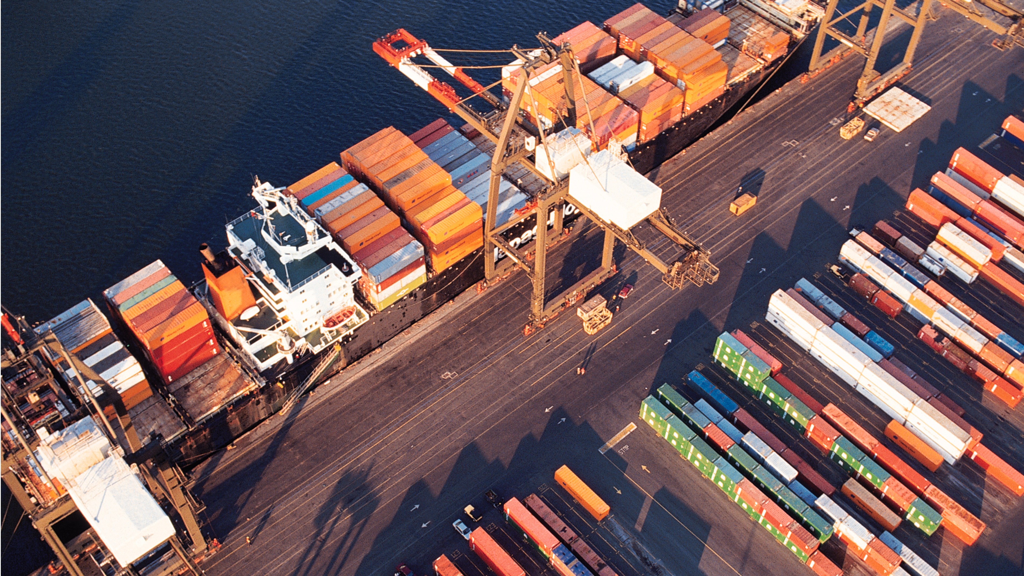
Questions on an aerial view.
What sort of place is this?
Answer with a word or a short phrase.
port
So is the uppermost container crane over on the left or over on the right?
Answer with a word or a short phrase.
right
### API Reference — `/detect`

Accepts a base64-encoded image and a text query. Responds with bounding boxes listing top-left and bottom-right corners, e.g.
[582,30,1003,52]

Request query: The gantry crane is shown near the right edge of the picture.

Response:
[794,0,1024,118]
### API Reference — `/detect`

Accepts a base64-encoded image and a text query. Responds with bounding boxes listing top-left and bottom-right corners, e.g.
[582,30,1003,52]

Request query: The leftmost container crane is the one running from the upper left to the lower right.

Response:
[0,290,224,576]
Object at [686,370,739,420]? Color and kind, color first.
blue shipping container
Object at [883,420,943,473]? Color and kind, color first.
orange shipping container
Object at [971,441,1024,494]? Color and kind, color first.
red shipping container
